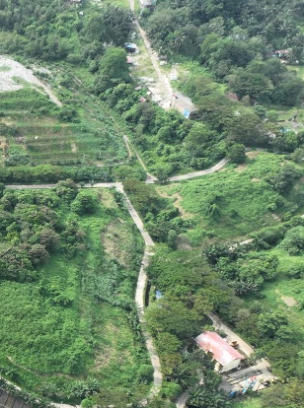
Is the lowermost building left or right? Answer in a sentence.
The lowermost building sits on the right side.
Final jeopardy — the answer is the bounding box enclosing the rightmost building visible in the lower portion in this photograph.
[189,336,242,378]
